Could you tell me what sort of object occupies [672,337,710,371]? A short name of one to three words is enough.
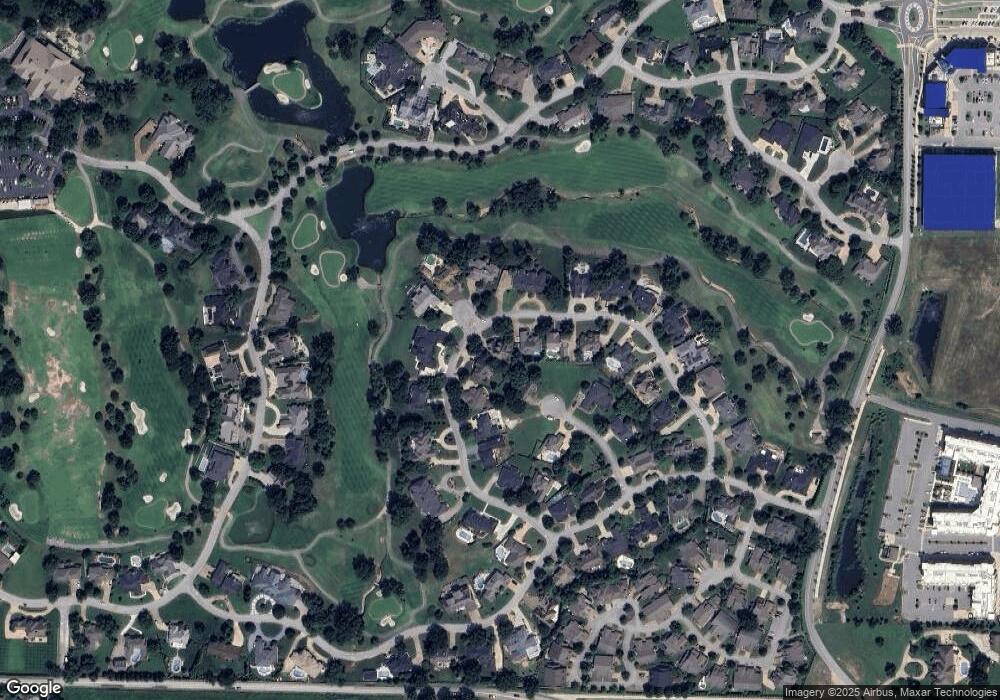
house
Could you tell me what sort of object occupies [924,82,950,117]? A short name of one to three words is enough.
building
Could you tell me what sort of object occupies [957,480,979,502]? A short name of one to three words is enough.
swimming pool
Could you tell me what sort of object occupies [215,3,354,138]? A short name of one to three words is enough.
pond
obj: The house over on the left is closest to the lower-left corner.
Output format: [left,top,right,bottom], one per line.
[18,621,57,642]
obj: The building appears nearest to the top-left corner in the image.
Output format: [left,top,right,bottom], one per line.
[14,34,86,103]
